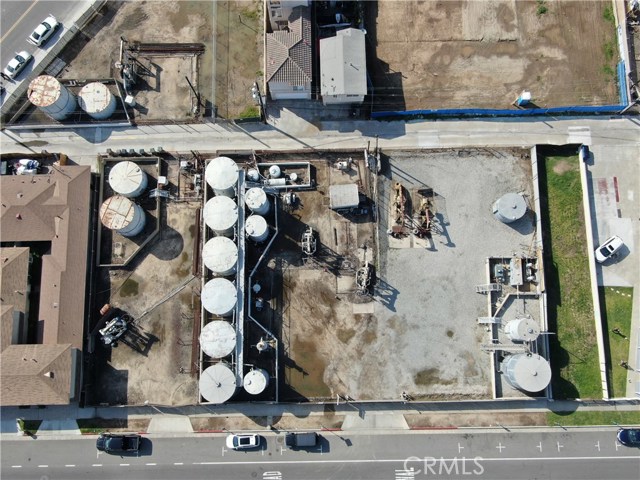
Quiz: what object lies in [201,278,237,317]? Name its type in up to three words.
storage tank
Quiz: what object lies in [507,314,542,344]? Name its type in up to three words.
storage tank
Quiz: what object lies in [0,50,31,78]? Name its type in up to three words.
car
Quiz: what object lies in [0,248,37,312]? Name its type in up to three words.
building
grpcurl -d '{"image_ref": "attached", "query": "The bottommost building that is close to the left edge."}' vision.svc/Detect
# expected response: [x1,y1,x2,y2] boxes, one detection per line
[0,344,80,406]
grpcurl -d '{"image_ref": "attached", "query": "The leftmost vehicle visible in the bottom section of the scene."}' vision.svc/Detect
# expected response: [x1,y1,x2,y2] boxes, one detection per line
[96,433,141,452]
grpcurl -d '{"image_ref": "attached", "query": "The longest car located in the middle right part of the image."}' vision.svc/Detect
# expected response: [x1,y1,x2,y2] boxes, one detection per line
[597,234,629,261]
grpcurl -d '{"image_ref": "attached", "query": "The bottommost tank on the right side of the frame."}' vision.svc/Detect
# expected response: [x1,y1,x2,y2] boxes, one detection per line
[502,354,552,396]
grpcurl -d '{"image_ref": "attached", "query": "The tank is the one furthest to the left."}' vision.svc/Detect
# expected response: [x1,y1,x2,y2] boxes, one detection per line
[24,73,78,121]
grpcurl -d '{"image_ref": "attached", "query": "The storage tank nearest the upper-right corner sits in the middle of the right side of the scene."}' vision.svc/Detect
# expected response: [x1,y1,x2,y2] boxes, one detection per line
[491,190,527,224]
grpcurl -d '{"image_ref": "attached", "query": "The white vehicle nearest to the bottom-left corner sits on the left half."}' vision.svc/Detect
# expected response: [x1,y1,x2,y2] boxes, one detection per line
[226,433,259,451]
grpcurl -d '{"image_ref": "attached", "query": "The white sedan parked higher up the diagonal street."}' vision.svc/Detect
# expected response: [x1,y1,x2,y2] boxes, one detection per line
[26,16,57,42]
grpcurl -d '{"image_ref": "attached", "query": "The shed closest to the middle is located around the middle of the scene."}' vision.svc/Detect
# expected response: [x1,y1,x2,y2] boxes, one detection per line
[330,184,366,216]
